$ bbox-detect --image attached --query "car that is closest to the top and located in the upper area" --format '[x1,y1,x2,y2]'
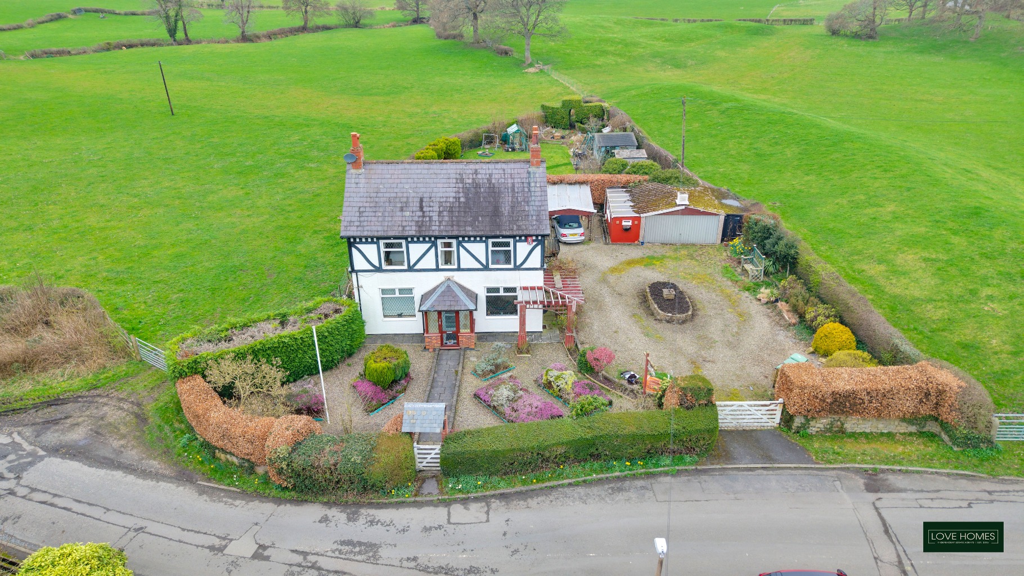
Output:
[552,216,587,244]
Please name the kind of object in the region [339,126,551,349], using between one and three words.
house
